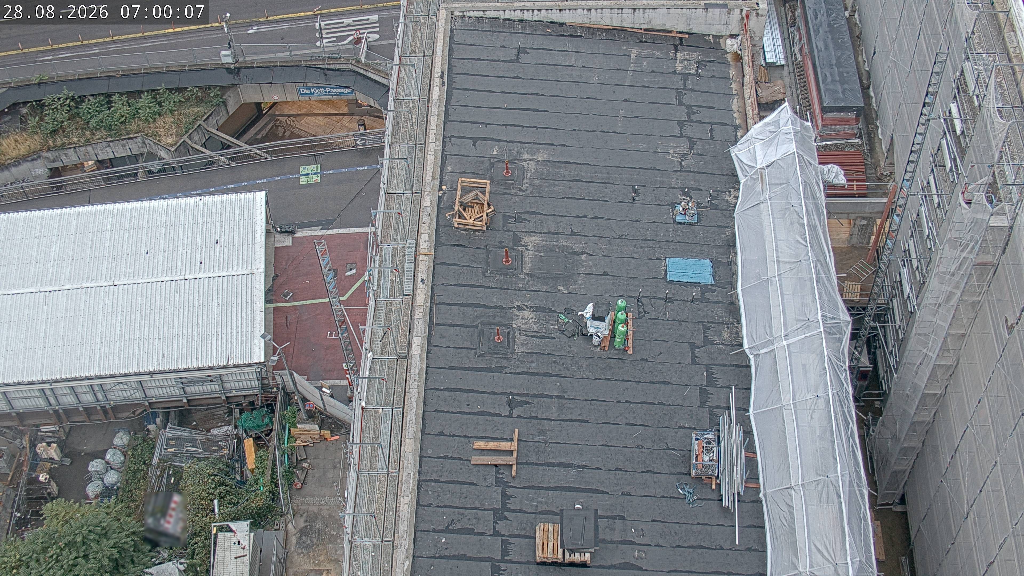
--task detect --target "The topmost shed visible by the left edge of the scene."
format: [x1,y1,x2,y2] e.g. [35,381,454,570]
[0,191,278,427]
